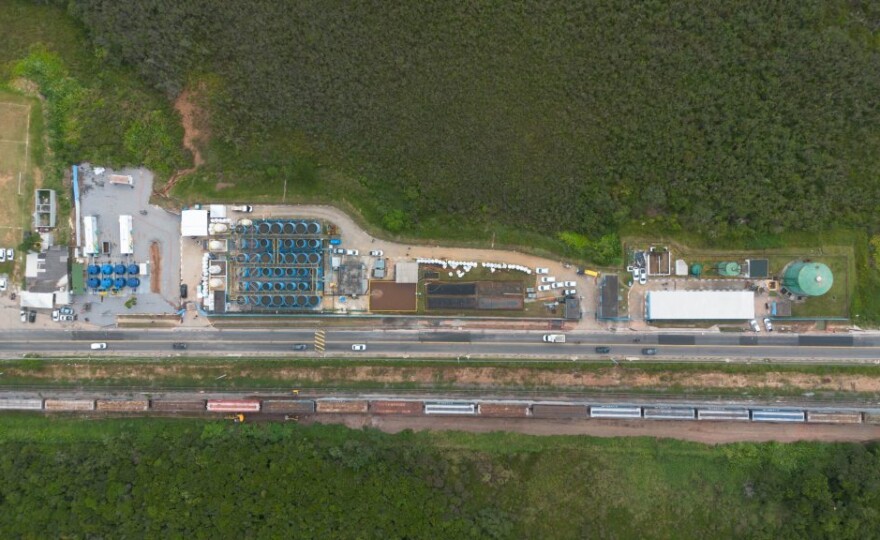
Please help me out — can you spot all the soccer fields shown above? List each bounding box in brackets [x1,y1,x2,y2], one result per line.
[0,103,31,242]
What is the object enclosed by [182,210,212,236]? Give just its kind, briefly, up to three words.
building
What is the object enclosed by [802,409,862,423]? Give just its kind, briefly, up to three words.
rail car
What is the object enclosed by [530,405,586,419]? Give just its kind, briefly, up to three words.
rail car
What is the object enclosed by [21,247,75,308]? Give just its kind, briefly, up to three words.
house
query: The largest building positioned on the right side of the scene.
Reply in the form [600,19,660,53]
[645,288,755,319]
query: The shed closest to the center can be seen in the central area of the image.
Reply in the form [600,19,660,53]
[396,263,419,283]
